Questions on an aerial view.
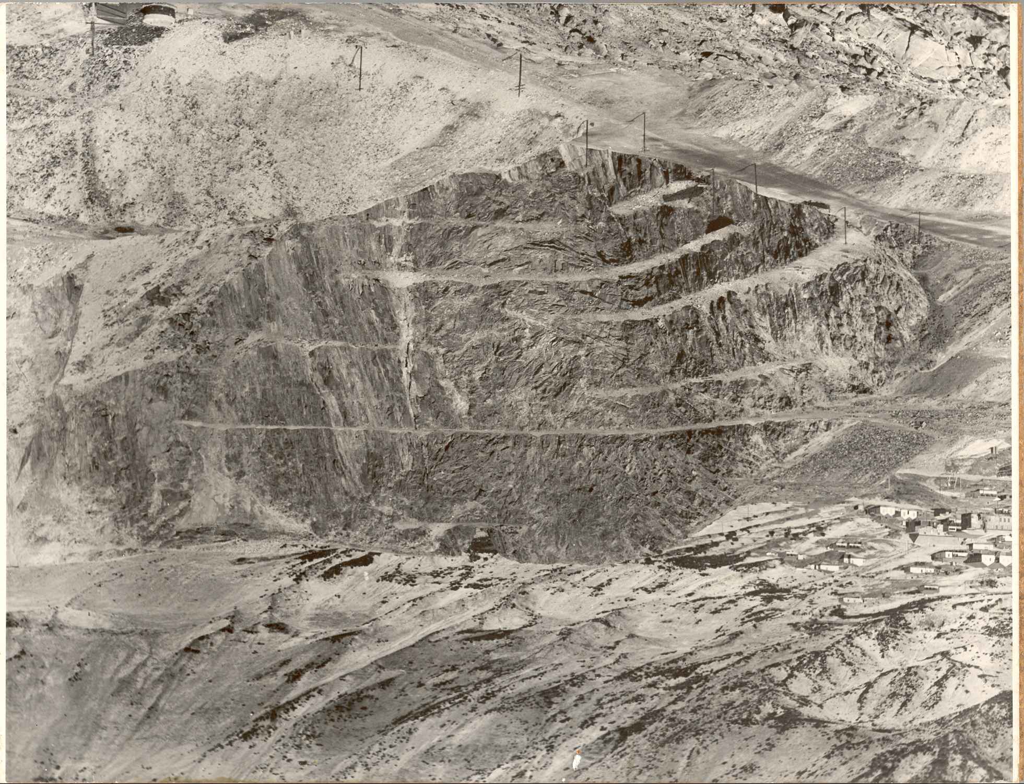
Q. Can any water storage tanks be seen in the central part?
No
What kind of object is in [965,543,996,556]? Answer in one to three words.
house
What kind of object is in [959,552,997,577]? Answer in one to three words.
house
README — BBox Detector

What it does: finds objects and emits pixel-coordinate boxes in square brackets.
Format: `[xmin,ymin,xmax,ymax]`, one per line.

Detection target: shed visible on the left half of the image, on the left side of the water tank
[95,1,136,35]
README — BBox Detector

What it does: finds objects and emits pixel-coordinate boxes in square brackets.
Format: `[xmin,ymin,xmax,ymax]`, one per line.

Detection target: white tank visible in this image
[141,6,182,33]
